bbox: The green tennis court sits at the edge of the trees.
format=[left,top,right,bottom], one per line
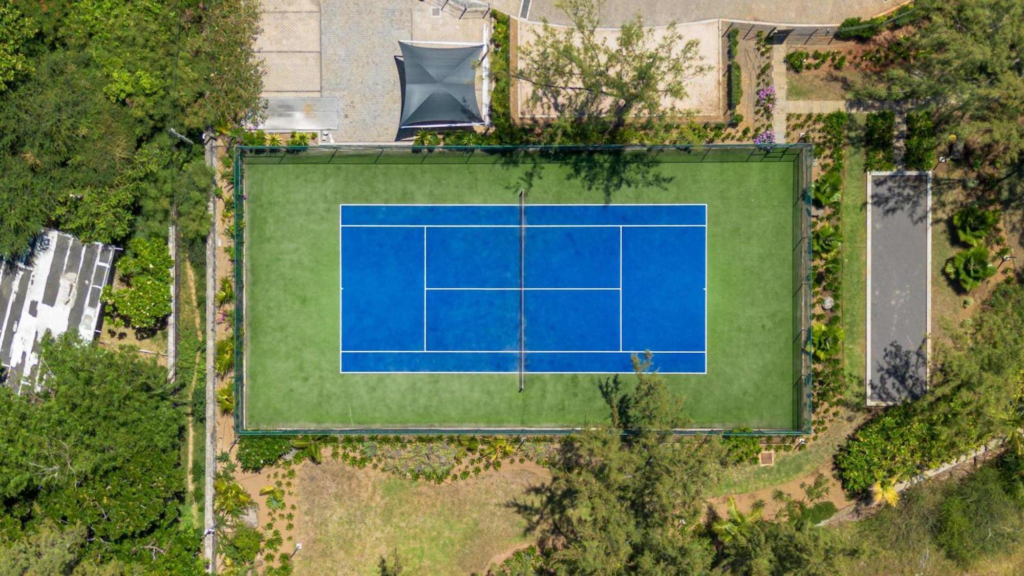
[243,151,804,431]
